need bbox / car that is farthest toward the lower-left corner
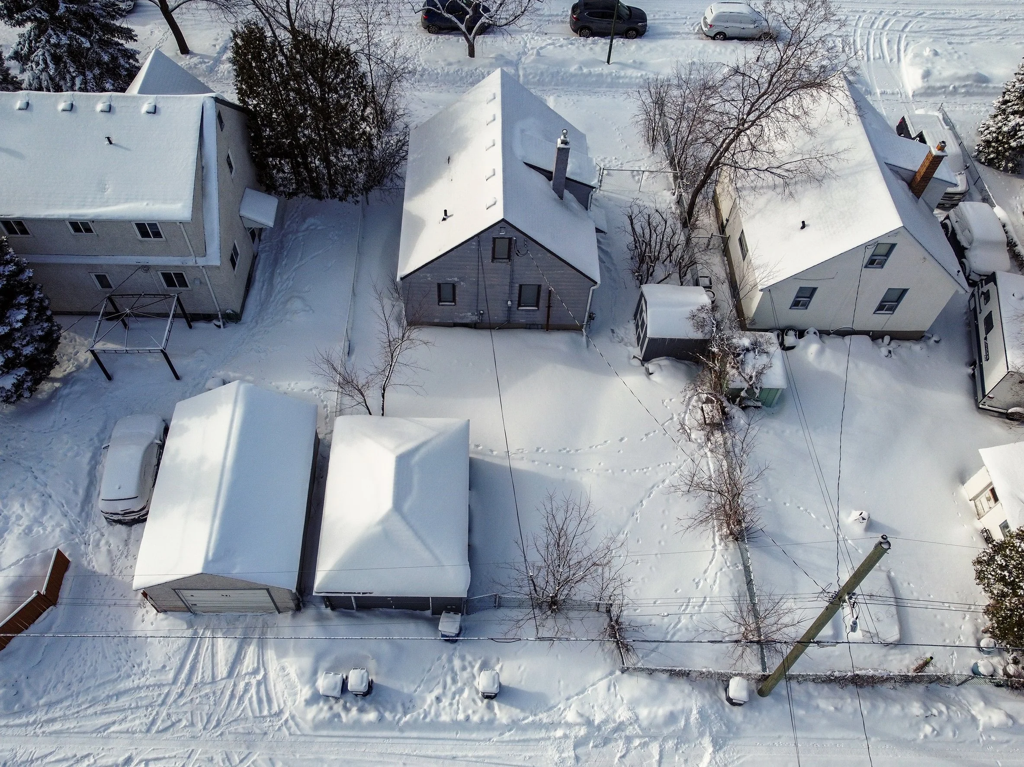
[90,415,171,526]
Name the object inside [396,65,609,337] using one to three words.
house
